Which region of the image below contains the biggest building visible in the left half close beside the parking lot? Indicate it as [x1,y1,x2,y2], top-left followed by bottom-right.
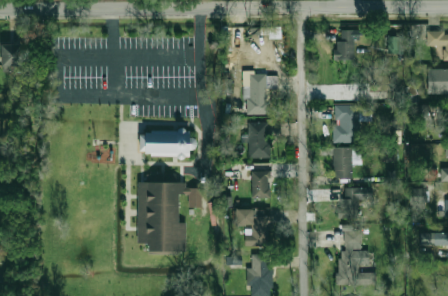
[138,184,186,254]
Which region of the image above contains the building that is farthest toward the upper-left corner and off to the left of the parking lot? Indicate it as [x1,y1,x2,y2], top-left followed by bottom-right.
[0,45,22,70]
